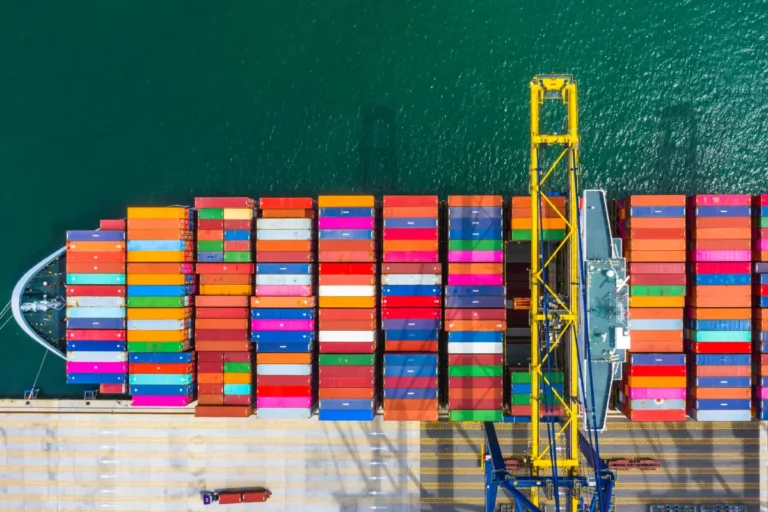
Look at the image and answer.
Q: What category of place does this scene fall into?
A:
port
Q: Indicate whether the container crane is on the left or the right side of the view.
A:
right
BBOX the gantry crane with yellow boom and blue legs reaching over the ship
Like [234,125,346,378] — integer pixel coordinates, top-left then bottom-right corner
[483,76,618,512]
